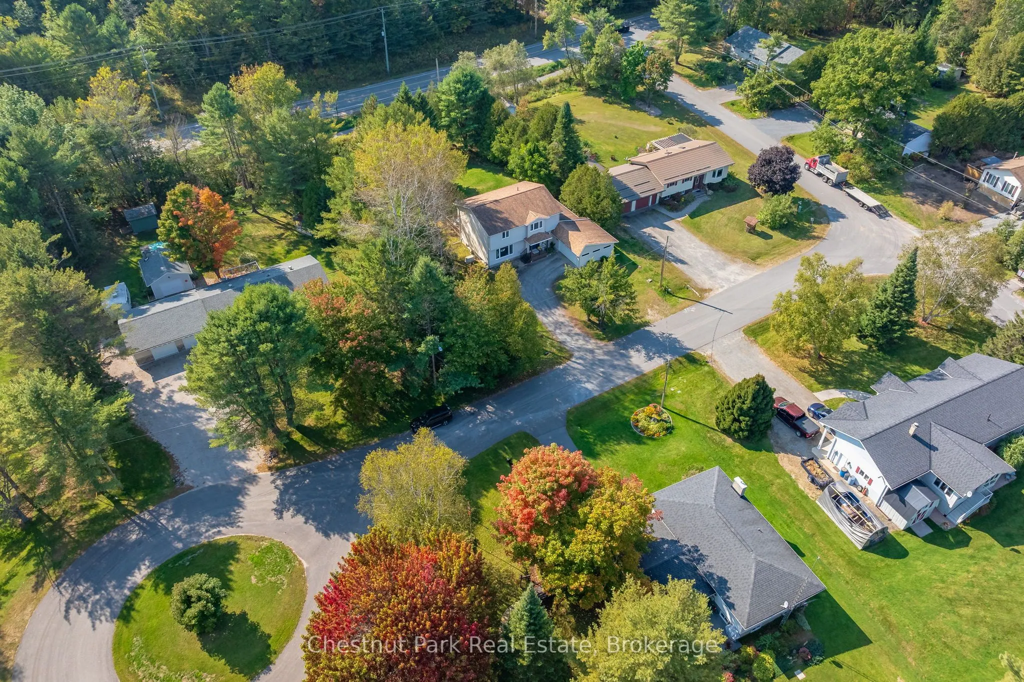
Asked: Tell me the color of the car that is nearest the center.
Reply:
black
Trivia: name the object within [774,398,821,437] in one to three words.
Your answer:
truck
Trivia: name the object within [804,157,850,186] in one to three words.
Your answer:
truck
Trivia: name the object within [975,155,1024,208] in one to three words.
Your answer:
house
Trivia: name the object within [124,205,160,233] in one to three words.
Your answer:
shed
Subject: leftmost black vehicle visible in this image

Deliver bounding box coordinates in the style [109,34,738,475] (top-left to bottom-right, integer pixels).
[410,404,455,434]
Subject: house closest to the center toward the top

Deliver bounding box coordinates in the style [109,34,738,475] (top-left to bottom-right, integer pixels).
[452,183,619,269]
